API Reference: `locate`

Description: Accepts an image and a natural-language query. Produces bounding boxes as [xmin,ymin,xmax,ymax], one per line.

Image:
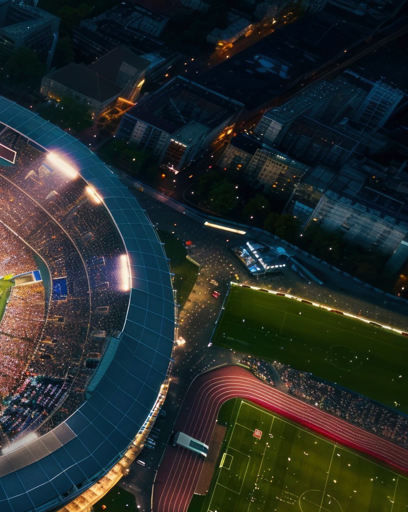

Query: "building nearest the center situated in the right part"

[233,233,290,272]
